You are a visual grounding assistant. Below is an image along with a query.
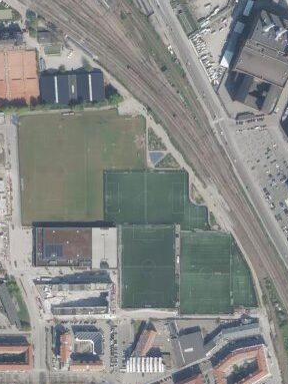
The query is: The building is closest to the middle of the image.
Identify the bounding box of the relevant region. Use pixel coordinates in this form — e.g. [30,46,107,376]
[92,227,118,268]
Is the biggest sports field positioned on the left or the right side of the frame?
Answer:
left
